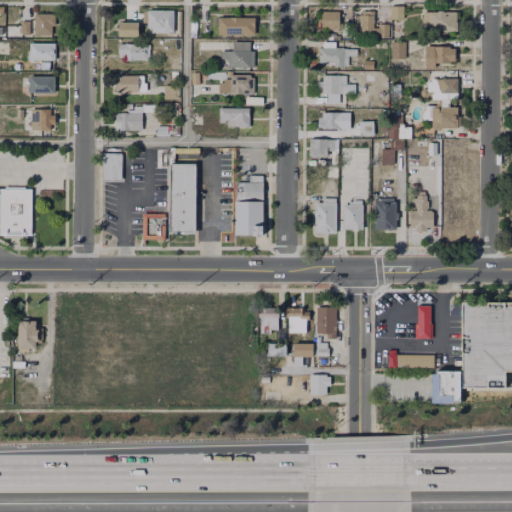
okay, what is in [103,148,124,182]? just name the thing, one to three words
building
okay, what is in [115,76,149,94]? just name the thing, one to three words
house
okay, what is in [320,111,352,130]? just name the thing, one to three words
house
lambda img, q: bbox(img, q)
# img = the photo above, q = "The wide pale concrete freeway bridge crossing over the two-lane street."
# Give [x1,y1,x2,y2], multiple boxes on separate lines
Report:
[309,436,412,512]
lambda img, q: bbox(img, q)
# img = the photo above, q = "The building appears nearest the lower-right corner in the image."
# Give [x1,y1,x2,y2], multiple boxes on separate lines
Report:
[432,372,462,404]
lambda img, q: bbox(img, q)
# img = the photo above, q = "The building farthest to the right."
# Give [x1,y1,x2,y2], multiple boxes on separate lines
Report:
[462,303,512,388]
